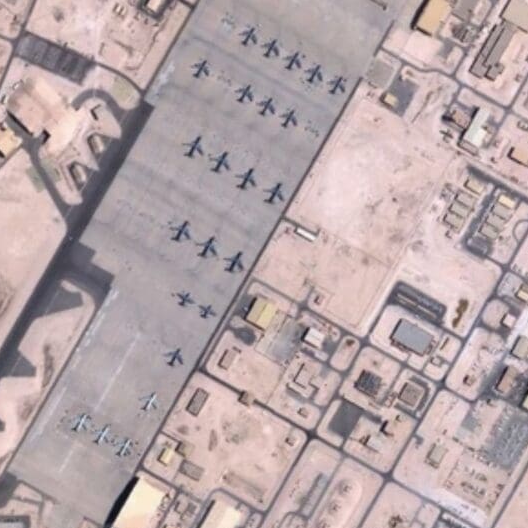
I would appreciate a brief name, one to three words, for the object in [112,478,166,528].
hangar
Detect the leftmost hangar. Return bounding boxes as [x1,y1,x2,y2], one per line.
[0,124,20,156]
